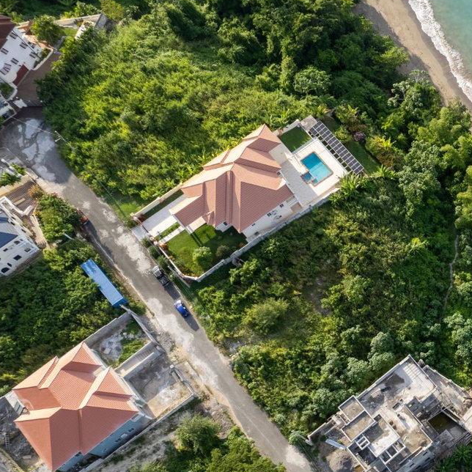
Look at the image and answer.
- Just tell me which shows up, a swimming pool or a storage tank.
swimming pool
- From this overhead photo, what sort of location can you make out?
residential area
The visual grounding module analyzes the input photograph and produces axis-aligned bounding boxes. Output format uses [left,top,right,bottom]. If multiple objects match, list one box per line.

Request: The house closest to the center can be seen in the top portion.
[170,124,294,239]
